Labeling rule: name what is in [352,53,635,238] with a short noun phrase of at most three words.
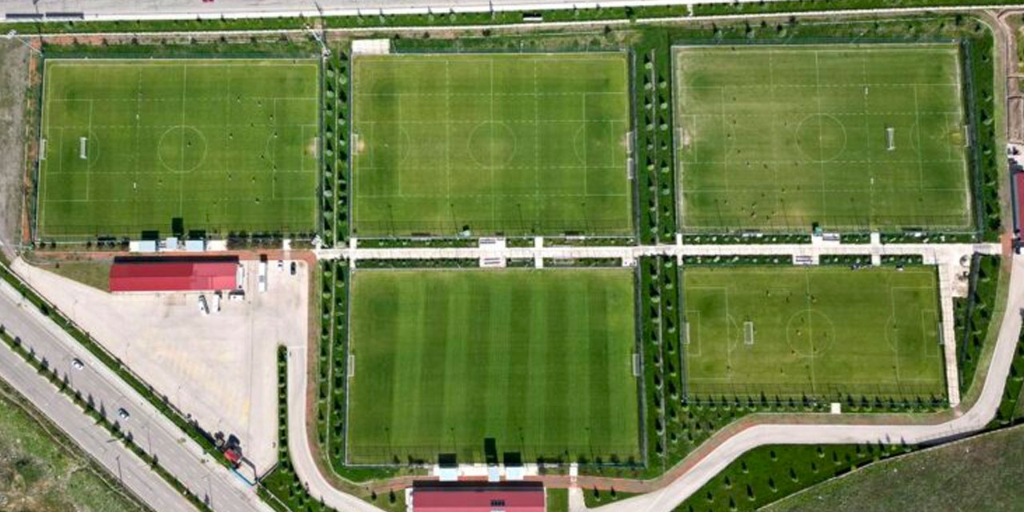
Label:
sports field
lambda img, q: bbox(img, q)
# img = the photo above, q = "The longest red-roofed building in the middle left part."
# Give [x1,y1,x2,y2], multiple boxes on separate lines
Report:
[109,262,241,292]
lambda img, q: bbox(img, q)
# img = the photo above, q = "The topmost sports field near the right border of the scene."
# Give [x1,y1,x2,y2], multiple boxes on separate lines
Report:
[674,44,975,234]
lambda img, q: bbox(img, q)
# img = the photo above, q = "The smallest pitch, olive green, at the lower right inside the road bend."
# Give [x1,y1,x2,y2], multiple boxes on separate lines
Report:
[684,265,948,402]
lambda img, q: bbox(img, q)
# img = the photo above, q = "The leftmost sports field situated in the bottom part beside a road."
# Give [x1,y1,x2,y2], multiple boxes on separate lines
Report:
[346,268,642,466]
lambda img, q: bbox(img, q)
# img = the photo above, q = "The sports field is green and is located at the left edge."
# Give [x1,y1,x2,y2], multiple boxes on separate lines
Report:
[37,60,320,241]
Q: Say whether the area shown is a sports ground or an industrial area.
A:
sports ground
